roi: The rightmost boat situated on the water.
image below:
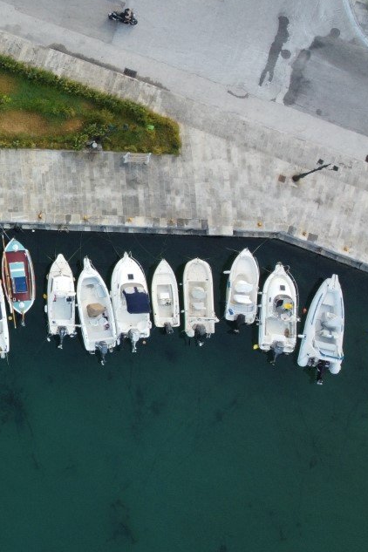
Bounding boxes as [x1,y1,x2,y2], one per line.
[297,277,346,378]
